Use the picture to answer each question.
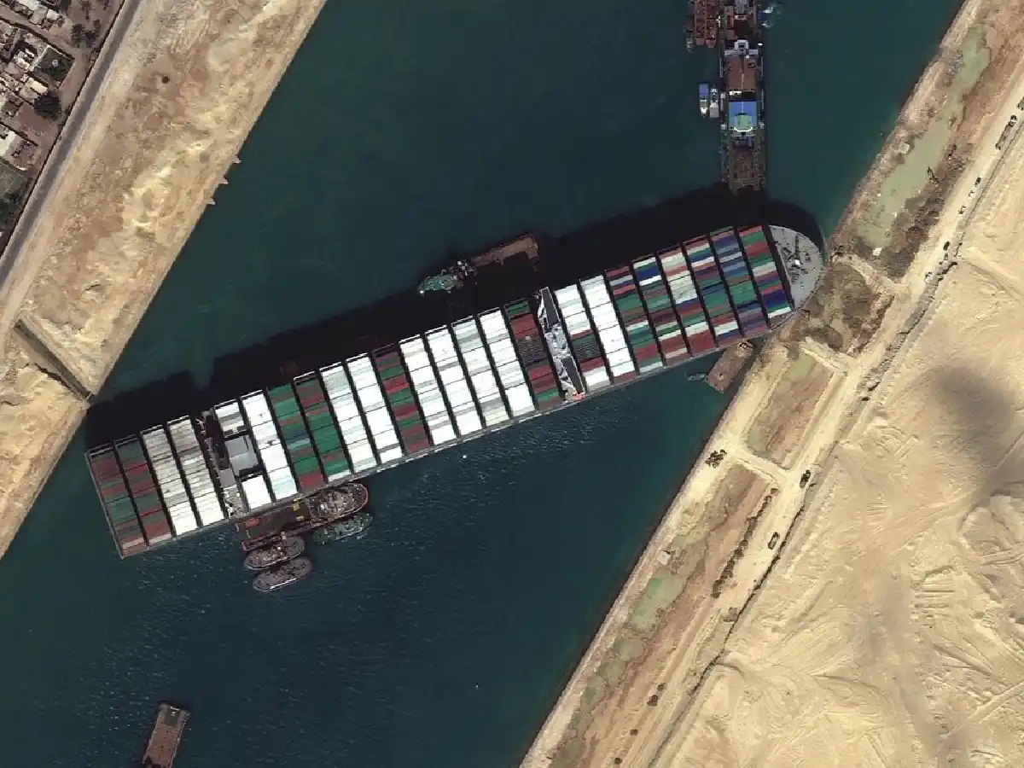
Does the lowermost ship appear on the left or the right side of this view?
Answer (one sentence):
The lowermost ship is on the left side of the image.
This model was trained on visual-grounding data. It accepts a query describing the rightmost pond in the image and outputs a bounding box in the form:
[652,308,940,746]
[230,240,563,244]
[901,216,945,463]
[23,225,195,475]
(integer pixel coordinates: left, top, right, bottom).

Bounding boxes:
[859,31,987,243]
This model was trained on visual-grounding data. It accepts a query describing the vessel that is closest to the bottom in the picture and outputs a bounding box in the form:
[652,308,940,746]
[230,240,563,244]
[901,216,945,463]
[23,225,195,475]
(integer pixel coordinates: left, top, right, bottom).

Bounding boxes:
[141,704,190,768]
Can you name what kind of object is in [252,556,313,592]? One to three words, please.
boat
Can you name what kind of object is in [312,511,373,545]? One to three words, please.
boat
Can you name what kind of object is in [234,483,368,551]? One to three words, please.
ship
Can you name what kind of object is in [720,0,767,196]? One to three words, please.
ship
